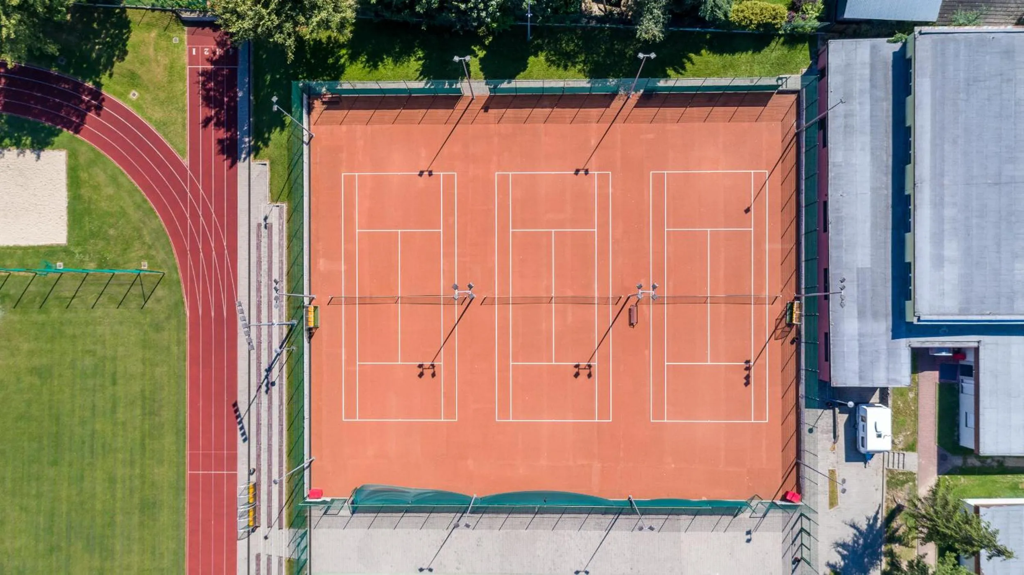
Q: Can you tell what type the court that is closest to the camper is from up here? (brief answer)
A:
tennis court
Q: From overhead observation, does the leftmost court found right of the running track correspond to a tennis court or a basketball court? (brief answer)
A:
tennis court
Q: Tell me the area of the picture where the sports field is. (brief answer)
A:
bottom left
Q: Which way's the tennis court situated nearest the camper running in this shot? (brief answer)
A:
vertically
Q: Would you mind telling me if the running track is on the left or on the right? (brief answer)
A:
left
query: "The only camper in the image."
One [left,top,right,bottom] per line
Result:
[855,400,891,463]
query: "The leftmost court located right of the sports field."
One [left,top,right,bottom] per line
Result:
[338,169,460,425]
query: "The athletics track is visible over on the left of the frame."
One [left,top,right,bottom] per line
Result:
[0,21,238,575]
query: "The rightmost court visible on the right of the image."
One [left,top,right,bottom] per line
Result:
[646,166,772,426]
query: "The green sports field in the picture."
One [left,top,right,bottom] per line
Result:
[0,273,186,575]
